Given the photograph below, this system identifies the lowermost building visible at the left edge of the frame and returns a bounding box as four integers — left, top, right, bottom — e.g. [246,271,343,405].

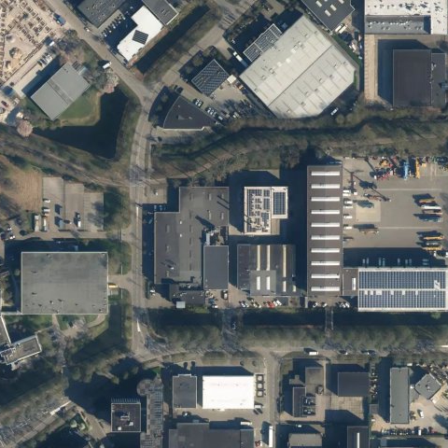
[0,316,42,366]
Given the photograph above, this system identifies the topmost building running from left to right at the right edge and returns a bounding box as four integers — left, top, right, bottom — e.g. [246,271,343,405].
[364,0,447,36]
